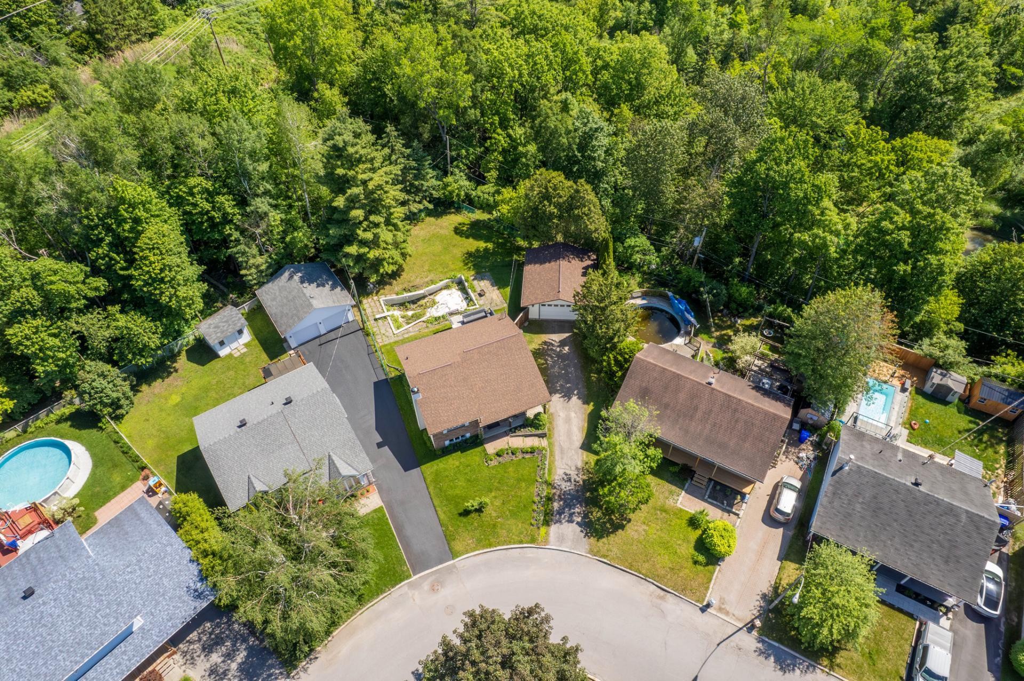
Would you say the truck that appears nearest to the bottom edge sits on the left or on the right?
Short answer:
right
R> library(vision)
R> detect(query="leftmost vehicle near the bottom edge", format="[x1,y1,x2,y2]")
[910,626,955,681]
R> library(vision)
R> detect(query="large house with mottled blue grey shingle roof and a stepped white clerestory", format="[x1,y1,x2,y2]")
[0,498,216,681]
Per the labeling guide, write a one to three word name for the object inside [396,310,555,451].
house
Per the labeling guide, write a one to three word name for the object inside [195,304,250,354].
shed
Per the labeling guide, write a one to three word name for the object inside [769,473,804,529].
car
